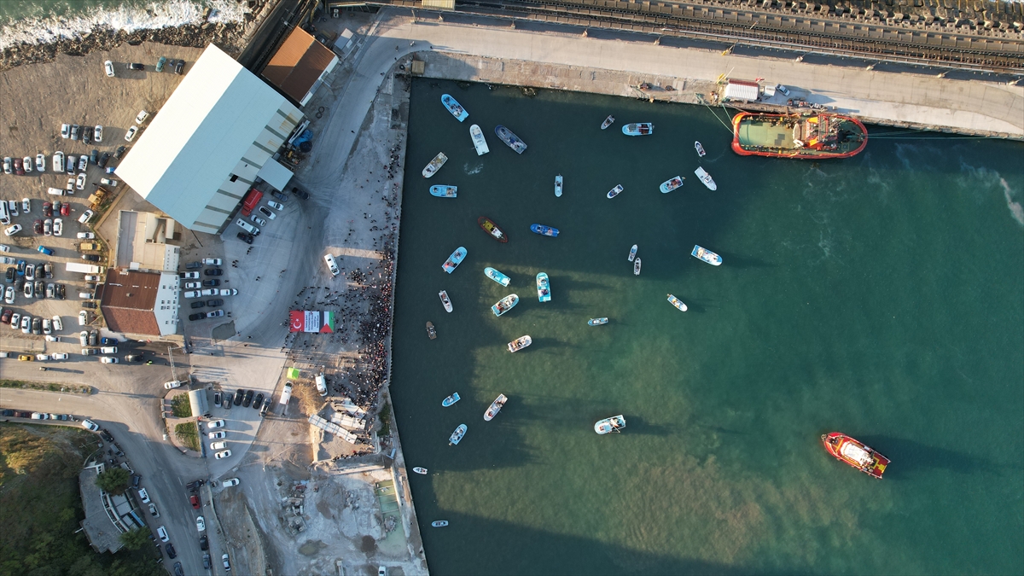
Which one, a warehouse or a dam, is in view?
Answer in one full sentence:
The one in the frame is a warehouse.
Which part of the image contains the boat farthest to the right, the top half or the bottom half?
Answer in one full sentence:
The boat farthest to the right sits in the bottom half of the picture.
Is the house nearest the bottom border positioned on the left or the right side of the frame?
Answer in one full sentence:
The house nearest the bottom border appears in the left half of the scene.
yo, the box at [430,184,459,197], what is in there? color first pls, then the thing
blue boat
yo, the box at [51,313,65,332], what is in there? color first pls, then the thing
white vehicle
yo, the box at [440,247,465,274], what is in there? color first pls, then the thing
blue boat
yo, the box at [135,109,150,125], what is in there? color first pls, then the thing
white car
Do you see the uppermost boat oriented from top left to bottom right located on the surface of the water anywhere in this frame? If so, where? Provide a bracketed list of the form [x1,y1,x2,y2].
[442,94,469,123]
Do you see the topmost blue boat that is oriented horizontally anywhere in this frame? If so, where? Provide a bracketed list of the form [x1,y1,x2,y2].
[622,123,655,136]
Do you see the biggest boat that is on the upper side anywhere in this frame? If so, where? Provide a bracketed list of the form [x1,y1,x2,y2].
[730,107,868,160]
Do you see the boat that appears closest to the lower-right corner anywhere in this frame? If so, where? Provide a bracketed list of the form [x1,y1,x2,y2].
[822,435,893,482]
